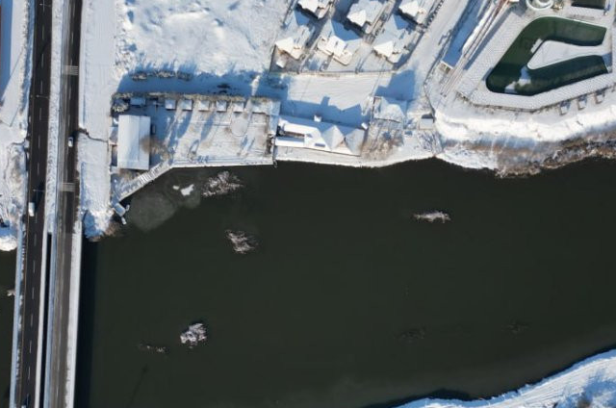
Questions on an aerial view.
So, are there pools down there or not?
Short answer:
Yes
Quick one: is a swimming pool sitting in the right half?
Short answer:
Yes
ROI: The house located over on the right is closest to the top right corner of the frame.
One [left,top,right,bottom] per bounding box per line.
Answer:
[399,0,434,27]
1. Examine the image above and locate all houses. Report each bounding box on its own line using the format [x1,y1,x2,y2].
[399,0,434,27]
[373,14,412,66]
[299,0,332,23]
[275,116,368,157]
[375,97,406,122]
[318,19,362,68]
[347,0,386,37]
[276,9,314,63]
[117,114,152,170]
